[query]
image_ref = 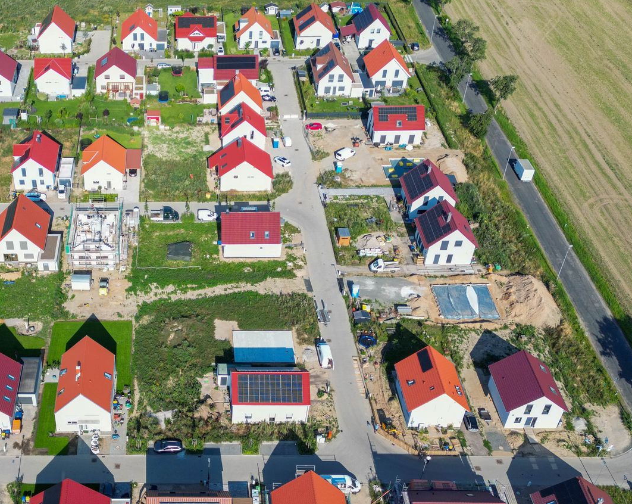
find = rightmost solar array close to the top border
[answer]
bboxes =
[355,7,374,31]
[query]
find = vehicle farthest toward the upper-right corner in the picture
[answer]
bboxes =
[517,157,536,179]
